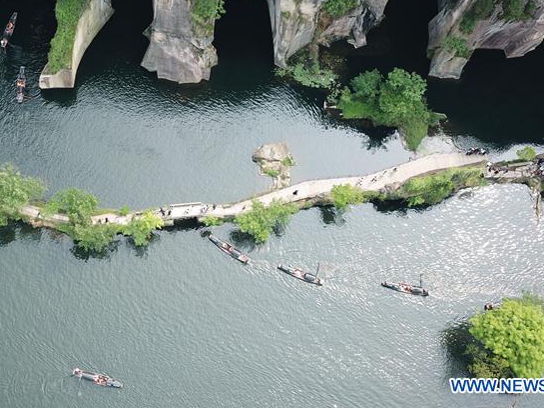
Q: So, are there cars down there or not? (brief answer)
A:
No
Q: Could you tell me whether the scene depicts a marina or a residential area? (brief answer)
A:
marina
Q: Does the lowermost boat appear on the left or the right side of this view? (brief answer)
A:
left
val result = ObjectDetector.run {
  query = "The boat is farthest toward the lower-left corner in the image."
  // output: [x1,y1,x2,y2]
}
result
[71,368,123,392]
